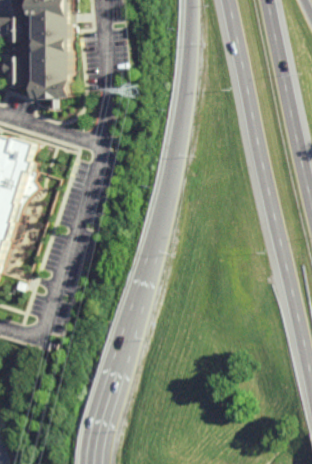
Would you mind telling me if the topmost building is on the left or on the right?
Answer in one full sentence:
The topmost building is on the left side of the image.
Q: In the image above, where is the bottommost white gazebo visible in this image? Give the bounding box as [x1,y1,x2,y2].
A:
[16,280,30,292]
